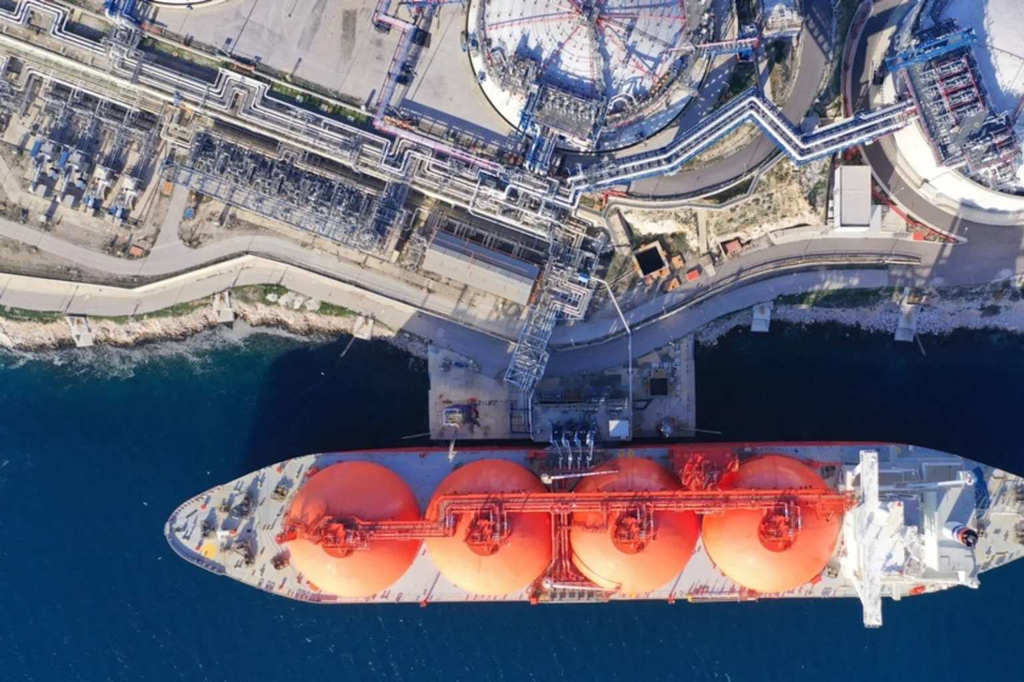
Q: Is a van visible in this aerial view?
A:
No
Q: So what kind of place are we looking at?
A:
industrial area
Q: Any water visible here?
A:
Yes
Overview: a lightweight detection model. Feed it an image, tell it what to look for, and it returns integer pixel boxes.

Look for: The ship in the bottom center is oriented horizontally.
[162,441,1024,629]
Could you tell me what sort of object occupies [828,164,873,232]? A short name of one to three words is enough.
building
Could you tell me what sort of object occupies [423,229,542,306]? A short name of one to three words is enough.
shed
